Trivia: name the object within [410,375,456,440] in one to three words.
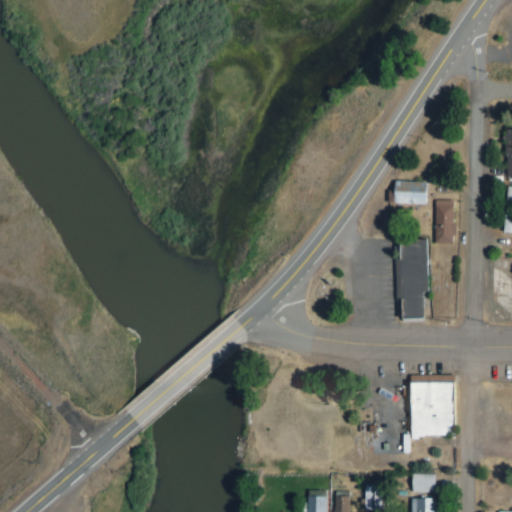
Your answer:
building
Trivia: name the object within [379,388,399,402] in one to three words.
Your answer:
vehicle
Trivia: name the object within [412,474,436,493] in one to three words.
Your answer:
building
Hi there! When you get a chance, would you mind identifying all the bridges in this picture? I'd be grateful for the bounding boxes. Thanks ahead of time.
[118,310,256,442]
